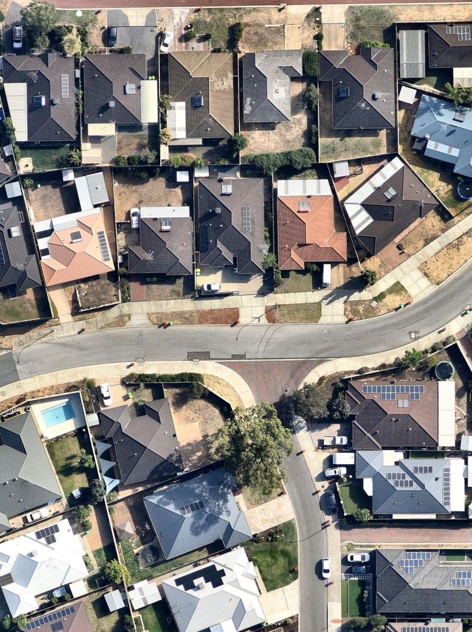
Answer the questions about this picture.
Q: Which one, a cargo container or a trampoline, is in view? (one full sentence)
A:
Looking from above, you can make out a trampoline.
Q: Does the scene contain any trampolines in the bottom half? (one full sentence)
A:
Yes, a trampoline can be seen in the bottom half.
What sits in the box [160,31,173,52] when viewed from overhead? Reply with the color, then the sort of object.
white vehicle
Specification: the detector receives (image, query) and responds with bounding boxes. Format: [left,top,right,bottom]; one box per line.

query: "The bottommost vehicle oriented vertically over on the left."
[99,382,111,406]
